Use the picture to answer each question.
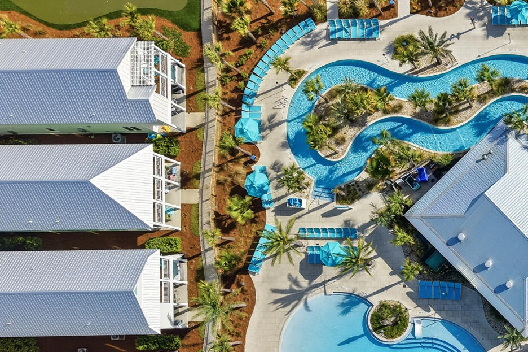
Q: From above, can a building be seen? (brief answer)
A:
Yes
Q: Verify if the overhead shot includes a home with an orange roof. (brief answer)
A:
No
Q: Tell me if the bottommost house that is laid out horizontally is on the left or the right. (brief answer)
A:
left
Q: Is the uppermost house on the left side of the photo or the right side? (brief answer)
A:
left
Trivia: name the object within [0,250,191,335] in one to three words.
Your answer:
house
